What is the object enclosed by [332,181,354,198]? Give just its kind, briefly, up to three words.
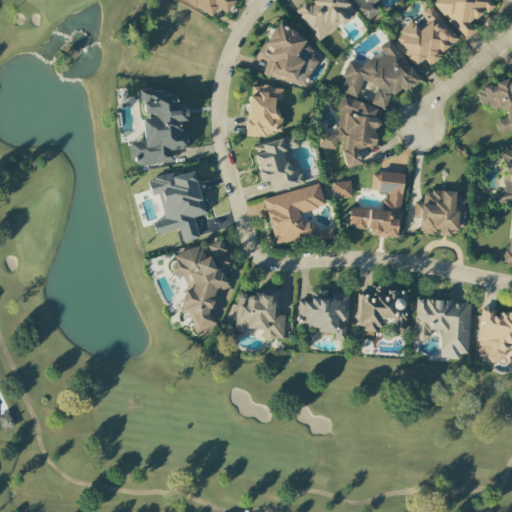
shed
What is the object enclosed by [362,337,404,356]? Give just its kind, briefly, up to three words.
swimming pool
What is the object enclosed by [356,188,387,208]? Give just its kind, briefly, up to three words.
swimming pool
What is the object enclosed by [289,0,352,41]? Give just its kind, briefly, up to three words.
house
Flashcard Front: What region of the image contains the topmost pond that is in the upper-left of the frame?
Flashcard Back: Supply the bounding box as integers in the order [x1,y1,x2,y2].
[38,4,101,78]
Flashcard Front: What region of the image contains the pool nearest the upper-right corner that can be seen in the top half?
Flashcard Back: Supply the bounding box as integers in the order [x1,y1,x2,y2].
[400,1,426,23]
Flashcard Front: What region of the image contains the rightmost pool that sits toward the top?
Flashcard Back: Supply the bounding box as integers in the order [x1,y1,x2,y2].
[486,158,507,200]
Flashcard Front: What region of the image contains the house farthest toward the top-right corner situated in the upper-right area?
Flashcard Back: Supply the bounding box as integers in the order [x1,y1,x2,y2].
[436,0,500,39]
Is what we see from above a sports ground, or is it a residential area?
residential area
